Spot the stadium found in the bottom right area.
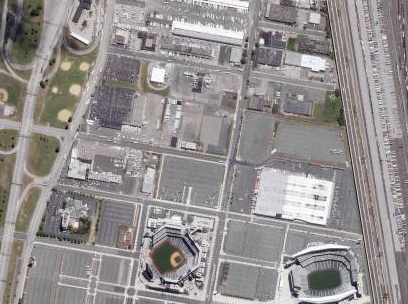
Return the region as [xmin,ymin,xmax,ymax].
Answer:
[283,243,361,304]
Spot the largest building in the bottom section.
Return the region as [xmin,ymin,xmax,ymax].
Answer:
[253,168,335,225]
